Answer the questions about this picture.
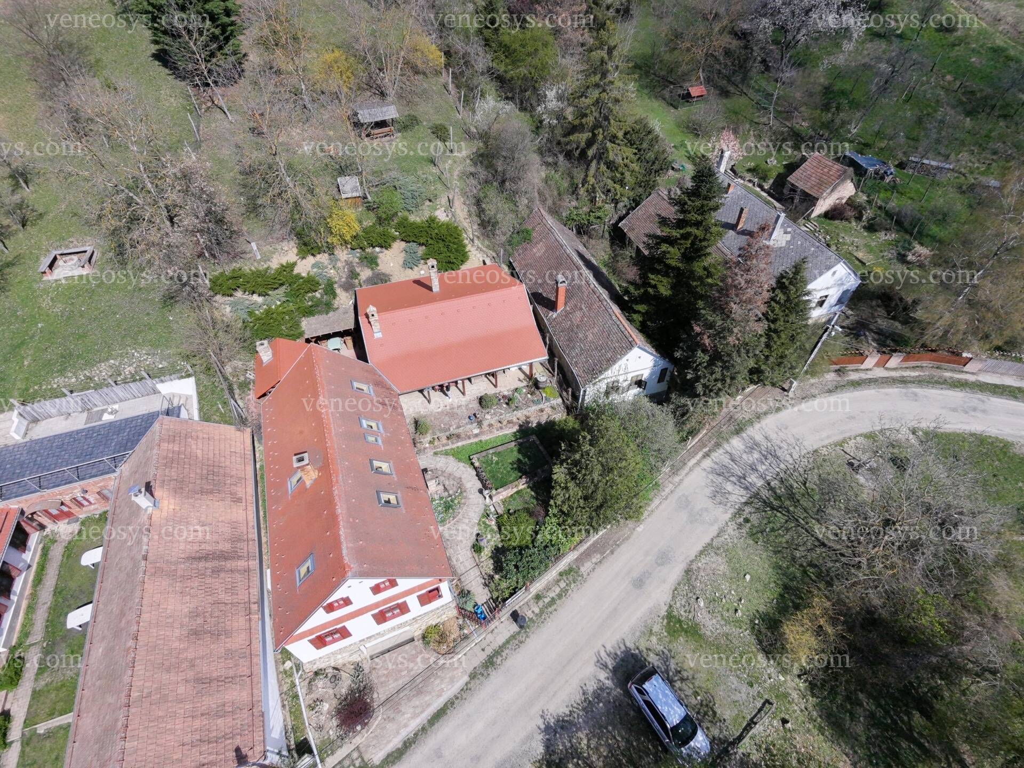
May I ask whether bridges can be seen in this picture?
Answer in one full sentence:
No, there appears to be no bridge in this shot.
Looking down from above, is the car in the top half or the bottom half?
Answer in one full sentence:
The car is in the bottom half of the image.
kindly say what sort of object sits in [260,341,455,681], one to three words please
house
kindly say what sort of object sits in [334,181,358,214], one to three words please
shed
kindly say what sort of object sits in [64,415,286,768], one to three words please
house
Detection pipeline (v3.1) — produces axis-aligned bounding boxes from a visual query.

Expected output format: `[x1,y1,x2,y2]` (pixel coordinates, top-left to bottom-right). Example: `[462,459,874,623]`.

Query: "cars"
[628,662,720,768]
